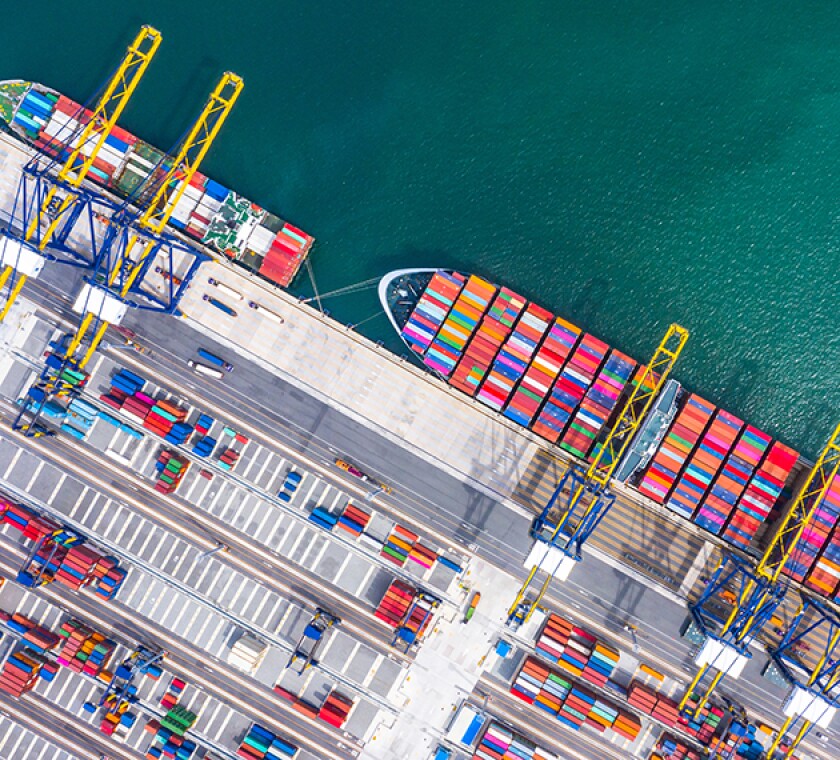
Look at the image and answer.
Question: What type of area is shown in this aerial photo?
port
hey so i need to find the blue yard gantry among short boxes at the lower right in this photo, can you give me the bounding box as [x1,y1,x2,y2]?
[701,701,754,760]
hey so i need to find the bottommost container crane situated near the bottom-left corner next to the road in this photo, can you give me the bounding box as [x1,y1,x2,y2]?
[94,645,161,715]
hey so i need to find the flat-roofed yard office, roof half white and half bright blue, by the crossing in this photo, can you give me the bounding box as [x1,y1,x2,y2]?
[447,702,486,749]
